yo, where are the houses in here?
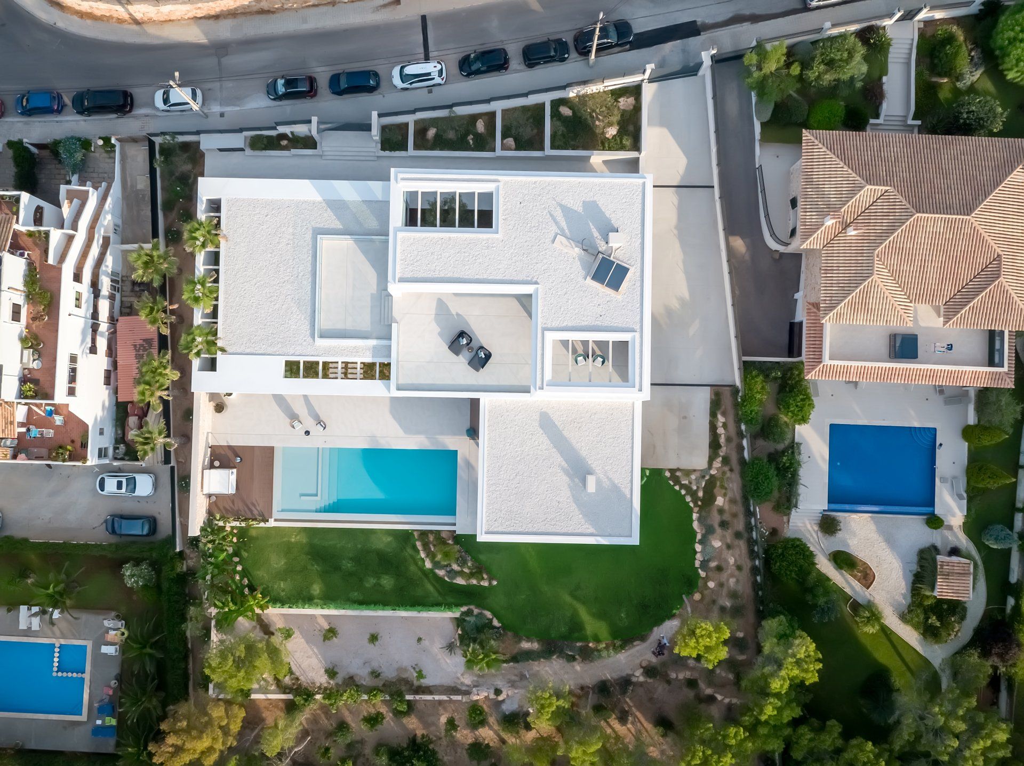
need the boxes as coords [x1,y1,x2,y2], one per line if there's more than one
[783,129,1024,388]
[0,139,141,466]
[191,169,652,545]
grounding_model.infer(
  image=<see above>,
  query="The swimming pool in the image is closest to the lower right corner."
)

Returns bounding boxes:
[822,420,941,524]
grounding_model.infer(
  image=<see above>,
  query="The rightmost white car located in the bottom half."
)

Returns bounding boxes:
[98,472,156,497]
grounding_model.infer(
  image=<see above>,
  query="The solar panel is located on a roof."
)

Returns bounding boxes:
[585,251,632,298]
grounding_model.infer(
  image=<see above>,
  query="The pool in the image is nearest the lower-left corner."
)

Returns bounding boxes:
[0,607,119,753]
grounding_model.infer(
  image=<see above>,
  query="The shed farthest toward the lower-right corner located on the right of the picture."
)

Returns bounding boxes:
[924,554,973,602]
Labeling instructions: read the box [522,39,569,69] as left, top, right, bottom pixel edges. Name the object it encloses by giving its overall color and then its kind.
black car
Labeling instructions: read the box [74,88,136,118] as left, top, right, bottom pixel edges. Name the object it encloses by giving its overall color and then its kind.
black car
